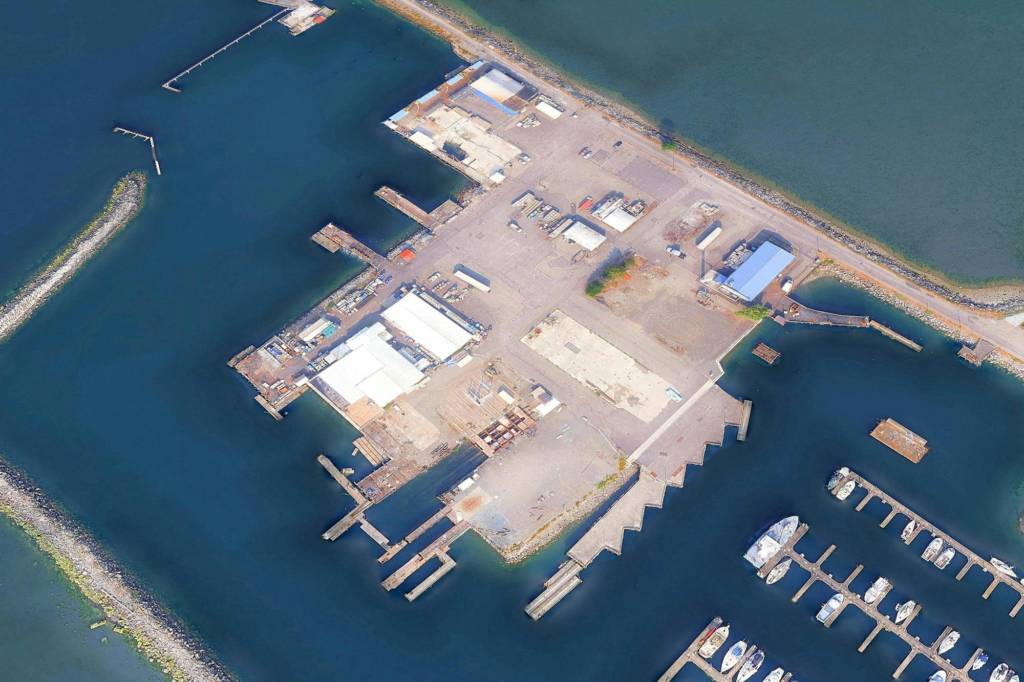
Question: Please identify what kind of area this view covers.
port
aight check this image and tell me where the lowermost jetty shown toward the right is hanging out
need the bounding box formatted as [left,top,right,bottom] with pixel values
[661,618,757,682]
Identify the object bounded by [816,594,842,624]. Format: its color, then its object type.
white boat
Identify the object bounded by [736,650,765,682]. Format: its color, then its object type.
white boat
